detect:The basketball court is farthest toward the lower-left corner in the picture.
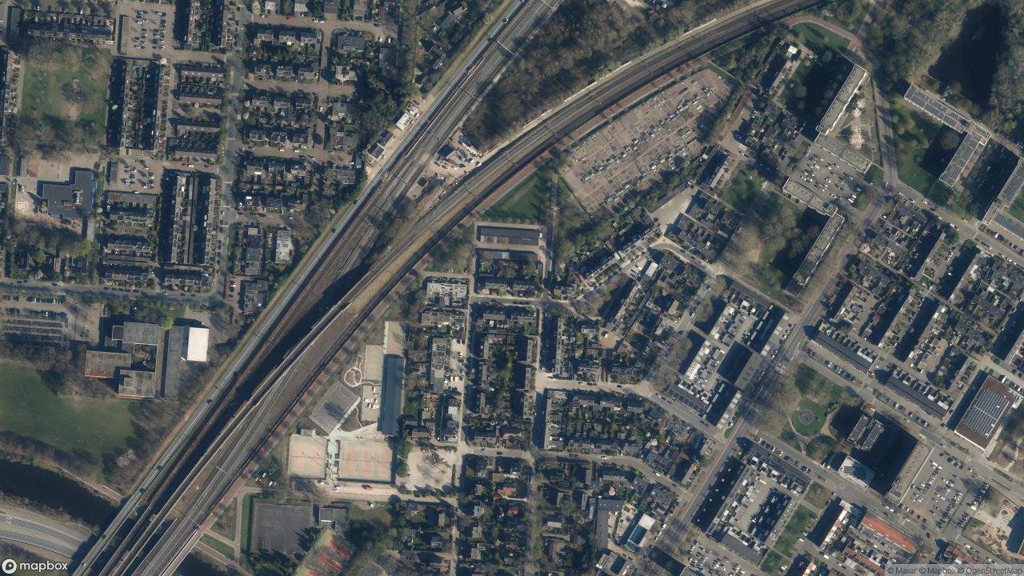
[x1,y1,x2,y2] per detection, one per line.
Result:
[250,504,312,553]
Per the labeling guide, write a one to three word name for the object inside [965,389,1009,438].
solar array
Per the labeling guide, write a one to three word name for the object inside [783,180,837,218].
building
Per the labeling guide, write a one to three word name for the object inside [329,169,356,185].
house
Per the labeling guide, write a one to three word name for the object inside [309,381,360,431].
sports court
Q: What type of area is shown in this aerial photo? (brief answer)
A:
residential area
